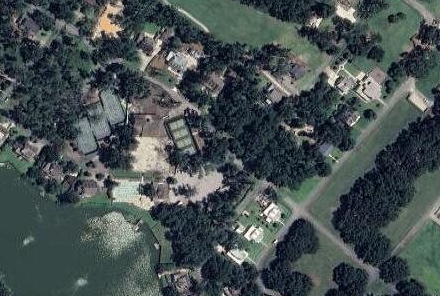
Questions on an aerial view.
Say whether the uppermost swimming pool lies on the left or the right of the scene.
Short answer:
left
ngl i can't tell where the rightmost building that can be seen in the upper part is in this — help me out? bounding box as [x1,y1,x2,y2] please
[352,64,385,106]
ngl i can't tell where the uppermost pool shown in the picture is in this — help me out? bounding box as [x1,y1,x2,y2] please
[111,180,141,202]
